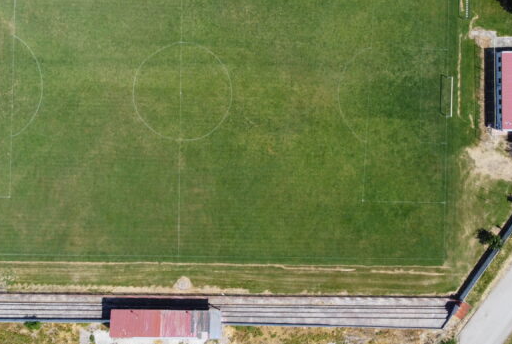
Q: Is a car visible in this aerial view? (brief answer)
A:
No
